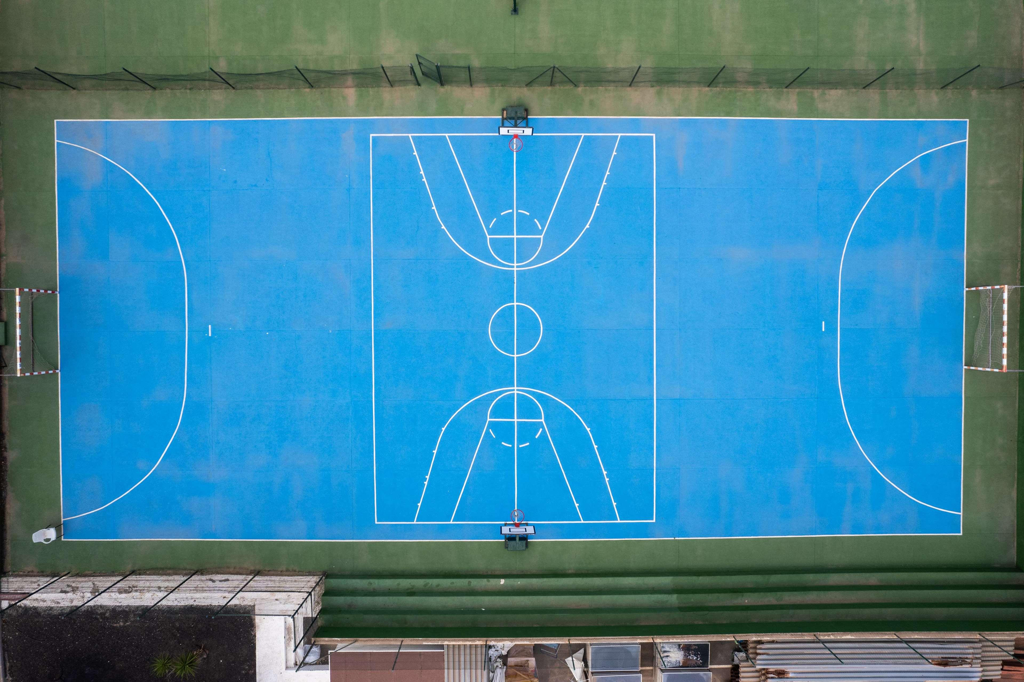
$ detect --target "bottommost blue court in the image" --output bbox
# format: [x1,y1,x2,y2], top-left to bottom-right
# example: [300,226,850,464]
[0,86,1024,573]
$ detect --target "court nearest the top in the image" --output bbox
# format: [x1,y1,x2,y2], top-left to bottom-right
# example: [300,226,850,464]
[0,0,1024,86]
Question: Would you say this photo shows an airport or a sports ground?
sports ground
